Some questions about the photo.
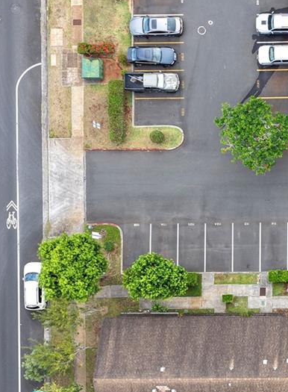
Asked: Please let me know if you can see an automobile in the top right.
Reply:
Yes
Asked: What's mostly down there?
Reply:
paved ground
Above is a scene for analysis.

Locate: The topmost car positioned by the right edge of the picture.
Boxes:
[255,9,288,36]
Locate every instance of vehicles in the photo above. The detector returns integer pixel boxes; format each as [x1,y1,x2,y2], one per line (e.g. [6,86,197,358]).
[20,260,49,312]
[122,69,183,94]
[128,10,184,37]
[126,42,177,66]
[255,9,288,36]
[254,41,288,68]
